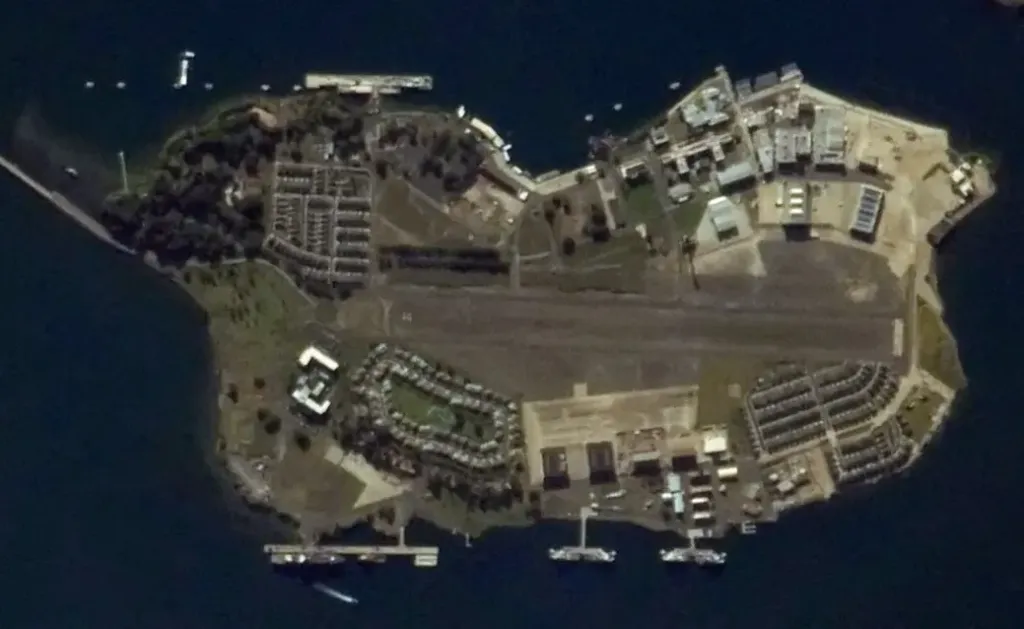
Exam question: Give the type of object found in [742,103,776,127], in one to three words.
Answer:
building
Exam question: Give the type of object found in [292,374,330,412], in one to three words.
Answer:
building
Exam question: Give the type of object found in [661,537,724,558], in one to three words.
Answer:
pier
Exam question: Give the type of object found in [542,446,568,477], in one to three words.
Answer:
hangar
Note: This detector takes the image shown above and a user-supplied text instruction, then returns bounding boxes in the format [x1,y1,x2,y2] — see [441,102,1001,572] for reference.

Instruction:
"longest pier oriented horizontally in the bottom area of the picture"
[264,526,437,566]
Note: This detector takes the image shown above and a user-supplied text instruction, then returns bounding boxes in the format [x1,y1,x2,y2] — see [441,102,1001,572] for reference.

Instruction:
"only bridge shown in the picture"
[0,156,138,255]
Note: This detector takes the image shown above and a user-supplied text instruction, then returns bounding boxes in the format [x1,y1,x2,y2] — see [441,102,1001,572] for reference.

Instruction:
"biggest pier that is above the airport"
[305,74,433,113]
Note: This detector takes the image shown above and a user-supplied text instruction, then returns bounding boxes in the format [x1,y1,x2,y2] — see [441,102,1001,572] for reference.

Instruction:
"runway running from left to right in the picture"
[388,292,904,360]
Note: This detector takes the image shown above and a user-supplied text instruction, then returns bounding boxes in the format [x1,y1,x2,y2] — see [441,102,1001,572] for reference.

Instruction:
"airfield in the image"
[388,242,906,360]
